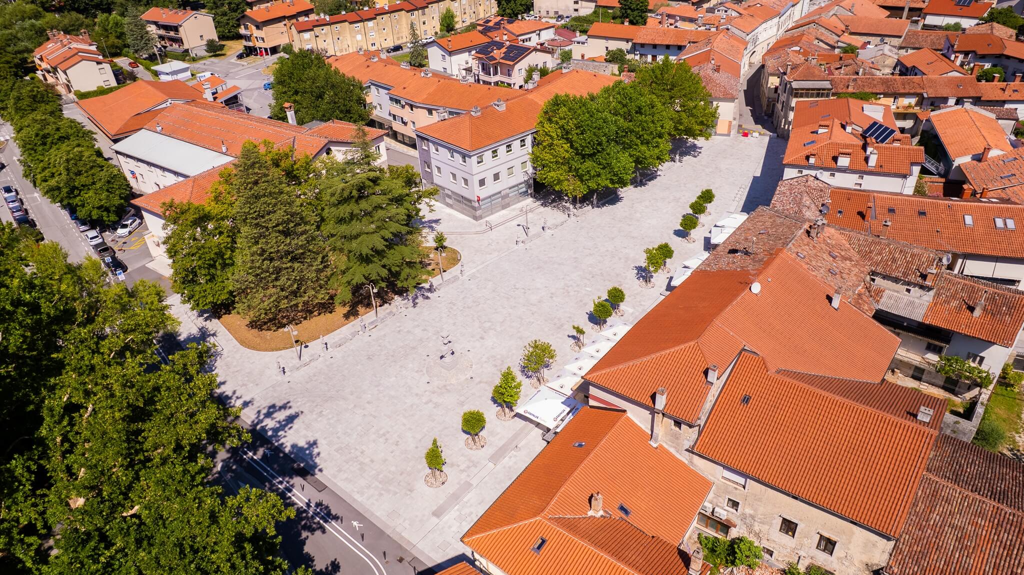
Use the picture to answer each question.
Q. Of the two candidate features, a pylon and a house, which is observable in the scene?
house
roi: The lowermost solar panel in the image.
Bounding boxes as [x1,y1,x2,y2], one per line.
[861,121,896,144]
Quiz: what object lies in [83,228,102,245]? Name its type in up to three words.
car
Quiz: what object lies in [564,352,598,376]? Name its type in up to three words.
umbrella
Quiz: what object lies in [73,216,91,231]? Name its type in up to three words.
car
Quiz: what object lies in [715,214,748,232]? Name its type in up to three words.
umbrella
